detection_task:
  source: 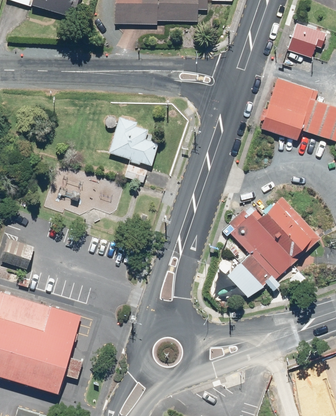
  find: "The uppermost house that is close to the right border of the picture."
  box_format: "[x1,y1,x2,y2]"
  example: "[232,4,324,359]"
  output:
[288,22,326,57]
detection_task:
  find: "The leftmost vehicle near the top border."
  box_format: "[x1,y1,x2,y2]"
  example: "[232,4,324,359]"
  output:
[94,18,106,33]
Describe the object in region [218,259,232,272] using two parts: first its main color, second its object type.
white umbrella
